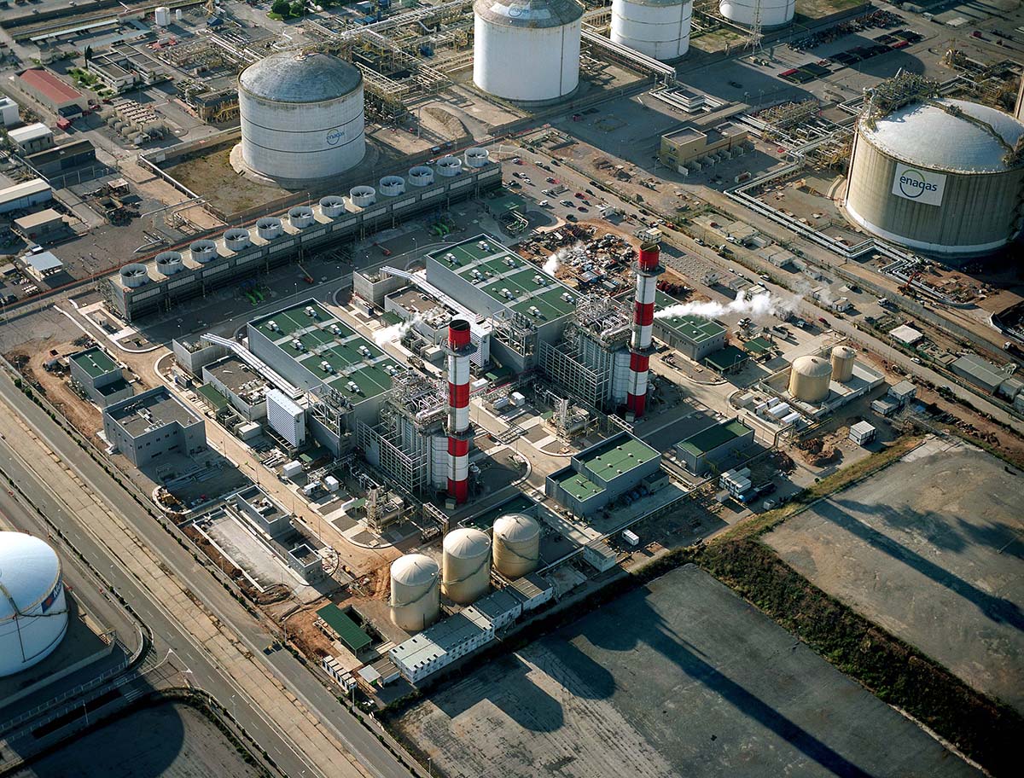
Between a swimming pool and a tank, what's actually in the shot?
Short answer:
tank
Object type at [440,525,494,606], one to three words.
storage tank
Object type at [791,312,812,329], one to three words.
vehicle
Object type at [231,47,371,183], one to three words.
storage tank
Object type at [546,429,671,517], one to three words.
building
